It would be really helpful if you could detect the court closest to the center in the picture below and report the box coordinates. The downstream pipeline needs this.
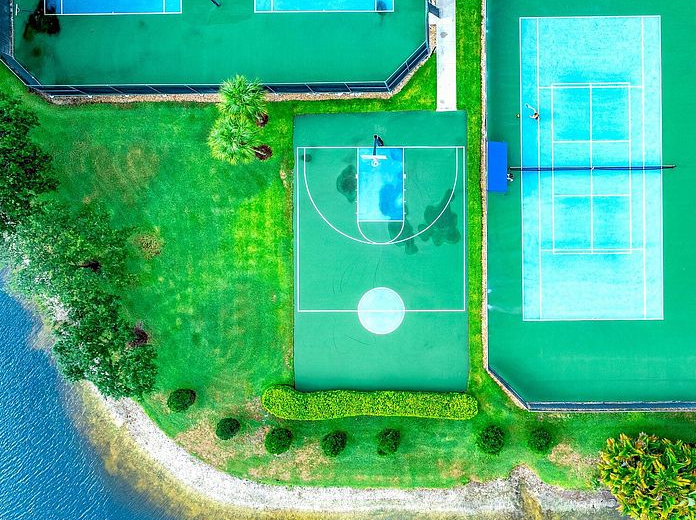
[294,111,470,393]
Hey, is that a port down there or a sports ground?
sports ground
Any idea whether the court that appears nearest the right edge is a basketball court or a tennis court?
tennis court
